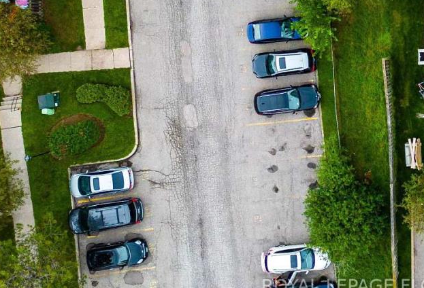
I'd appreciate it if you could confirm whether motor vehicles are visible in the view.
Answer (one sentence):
Yes, looking at the shot, I can spot a motor vehicle.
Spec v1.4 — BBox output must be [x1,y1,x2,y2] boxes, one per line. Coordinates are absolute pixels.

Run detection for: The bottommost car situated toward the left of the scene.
[84,235,154,273]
